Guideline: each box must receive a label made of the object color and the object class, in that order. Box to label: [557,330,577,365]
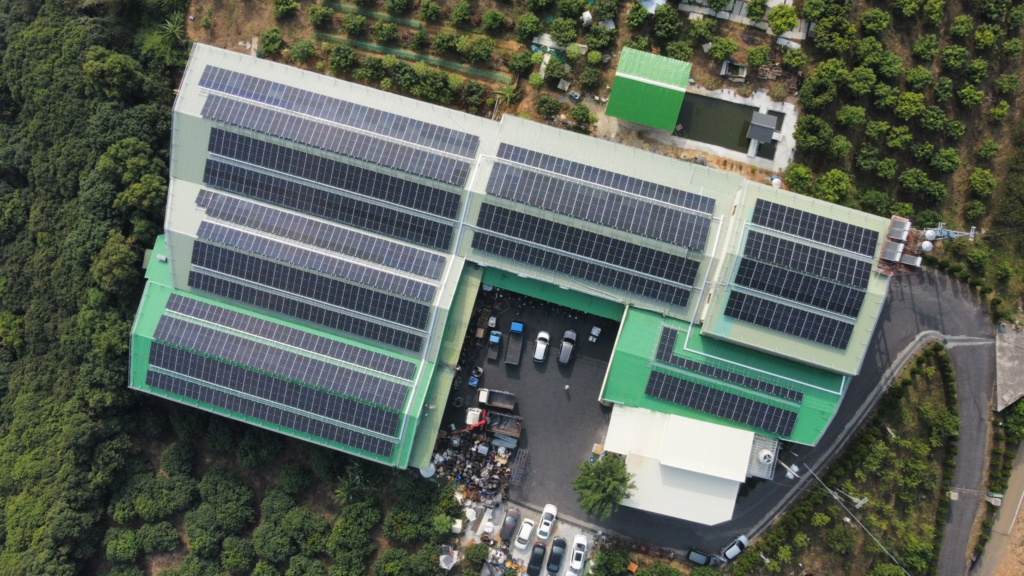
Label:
gray car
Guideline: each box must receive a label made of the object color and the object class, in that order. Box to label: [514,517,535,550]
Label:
white car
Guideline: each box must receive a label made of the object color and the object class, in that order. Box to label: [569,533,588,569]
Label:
white car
